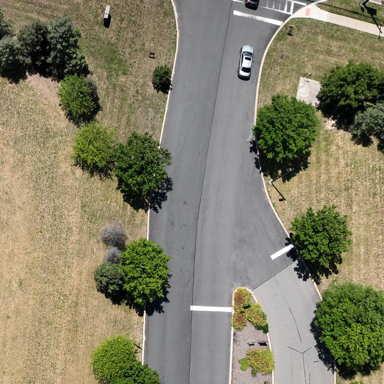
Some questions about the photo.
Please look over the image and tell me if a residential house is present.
No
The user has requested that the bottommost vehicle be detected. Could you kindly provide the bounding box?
[237,45,256,81]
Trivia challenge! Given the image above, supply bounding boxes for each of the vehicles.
[244,0,259,12]
[237,45,256,81]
